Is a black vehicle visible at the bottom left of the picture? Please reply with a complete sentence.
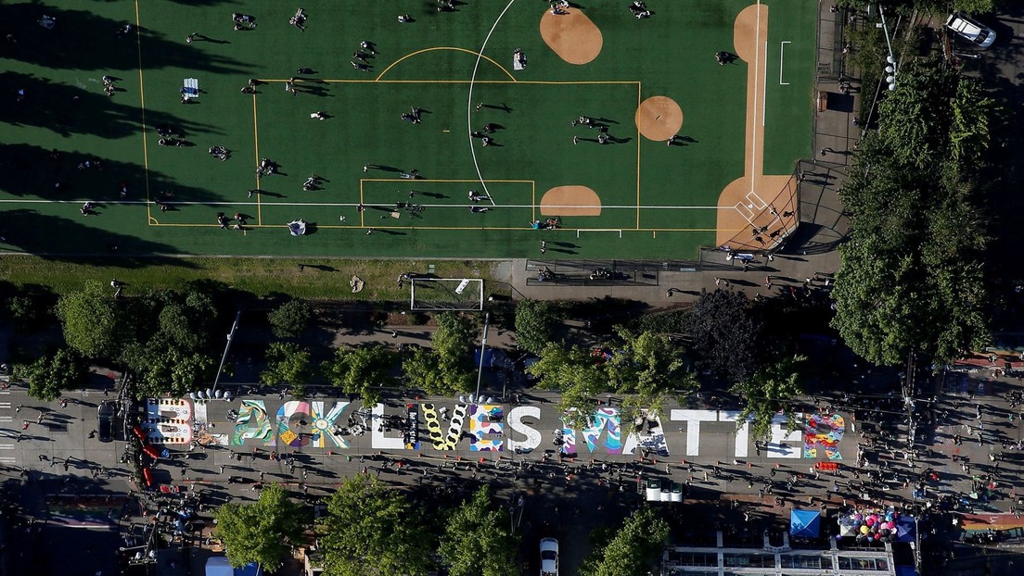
Yes, you'll find a black vehicle at the bottom left of the picture.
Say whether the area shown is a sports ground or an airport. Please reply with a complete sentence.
It's a sports ground.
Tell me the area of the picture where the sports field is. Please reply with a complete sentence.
The sports field appears toward the top of the photo.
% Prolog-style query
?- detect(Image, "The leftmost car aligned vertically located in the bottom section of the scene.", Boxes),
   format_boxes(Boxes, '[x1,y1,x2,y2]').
[95,401,116,443]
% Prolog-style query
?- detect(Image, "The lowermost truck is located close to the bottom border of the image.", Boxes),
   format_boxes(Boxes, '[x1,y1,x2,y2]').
[538,540,560,576]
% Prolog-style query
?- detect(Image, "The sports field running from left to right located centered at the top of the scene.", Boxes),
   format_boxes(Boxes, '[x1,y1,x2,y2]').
[0,0,819,262]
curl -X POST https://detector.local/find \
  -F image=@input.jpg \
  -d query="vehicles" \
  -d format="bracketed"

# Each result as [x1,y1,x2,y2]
[95,401,116,443]
[947,14,997,47]
[538,540,560,576]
